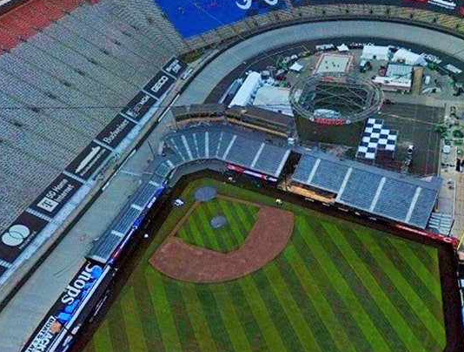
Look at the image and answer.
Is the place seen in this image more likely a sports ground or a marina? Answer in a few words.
sports ground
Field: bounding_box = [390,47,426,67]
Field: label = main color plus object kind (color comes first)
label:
white tent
